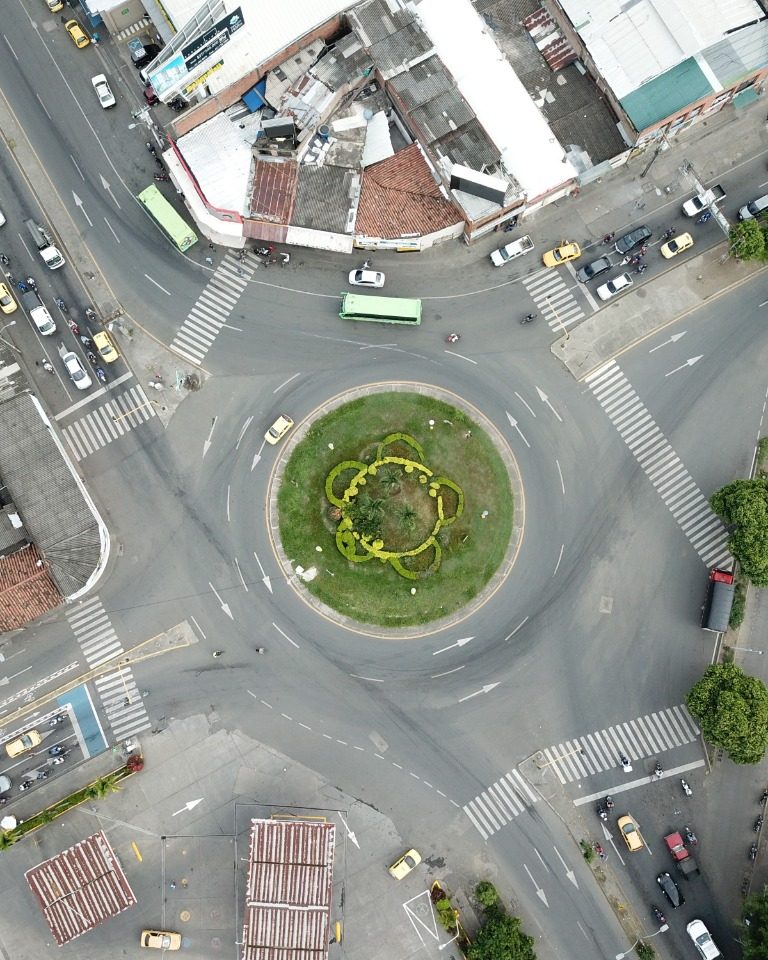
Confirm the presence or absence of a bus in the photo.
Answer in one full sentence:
Yes, there's a bus here.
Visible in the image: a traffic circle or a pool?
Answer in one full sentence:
Visible in the photo is a traffic circle.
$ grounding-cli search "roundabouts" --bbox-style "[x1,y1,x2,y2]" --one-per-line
[183,305,609,728]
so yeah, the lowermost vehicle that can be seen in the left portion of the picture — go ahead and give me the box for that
[142,928,182,951]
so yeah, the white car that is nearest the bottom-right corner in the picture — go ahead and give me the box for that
[690,921,723,960]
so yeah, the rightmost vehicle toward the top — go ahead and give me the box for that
[738,195,768,221]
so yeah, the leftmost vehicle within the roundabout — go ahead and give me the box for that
[265,413,293,444]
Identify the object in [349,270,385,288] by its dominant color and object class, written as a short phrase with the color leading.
white car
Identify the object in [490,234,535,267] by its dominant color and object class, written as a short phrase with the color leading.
white truck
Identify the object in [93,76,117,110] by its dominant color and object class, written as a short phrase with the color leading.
white car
